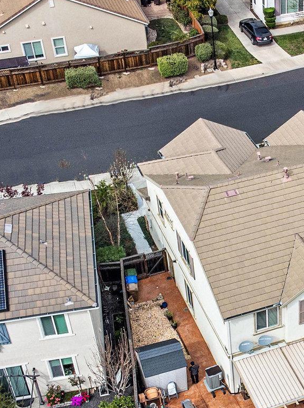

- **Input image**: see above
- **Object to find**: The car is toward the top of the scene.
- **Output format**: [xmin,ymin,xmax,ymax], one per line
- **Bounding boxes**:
[239,17,275,39]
